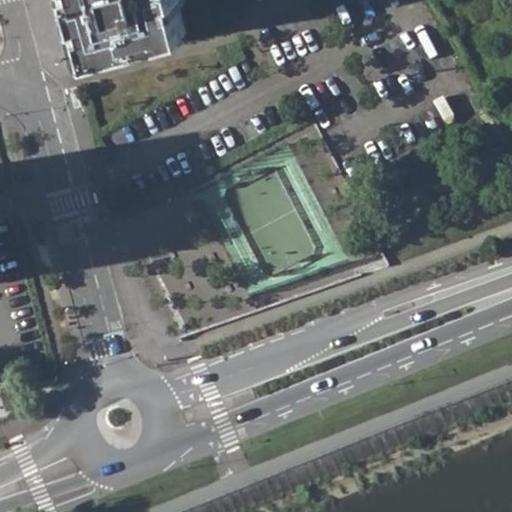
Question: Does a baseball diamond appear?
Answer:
No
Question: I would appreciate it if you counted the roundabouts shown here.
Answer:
one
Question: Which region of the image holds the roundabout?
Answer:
bottom left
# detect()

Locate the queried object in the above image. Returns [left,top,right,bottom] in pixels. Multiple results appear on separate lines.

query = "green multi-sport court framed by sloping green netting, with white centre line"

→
[211,150,350,297]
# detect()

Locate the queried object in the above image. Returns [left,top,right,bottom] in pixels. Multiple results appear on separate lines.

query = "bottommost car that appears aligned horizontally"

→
[98,462,120,475]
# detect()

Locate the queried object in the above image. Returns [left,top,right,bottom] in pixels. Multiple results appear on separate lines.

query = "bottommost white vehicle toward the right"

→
[311,377,332,391]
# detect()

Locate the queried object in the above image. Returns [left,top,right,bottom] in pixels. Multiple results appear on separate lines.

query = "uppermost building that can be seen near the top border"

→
[53,0,186,78]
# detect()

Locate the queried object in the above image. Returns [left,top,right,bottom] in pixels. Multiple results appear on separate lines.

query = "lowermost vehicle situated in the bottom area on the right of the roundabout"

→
[237,408,260,422]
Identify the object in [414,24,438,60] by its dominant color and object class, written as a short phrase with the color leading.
white camper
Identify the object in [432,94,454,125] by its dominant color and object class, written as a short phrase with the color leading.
white truck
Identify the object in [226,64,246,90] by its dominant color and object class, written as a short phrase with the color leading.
white vehicle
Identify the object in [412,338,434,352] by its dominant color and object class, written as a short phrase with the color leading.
white car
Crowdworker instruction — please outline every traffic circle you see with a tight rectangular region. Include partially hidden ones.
[93,387,147,453]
